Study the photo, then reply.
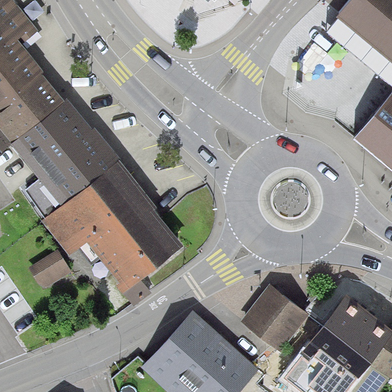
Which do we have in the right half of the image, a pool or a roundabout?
roundabout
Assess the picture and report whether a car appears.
Yes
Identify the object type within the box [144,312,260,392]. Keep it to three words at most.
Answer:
house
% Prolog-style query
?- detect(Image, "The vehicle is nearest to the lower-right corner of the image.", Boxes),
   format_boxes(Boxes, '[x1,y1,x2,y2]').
[362,258,382,270]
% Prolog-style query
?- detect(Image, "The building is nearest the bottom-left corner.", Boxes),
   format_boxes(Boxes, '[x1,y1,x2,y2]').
[32,250,72,289]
